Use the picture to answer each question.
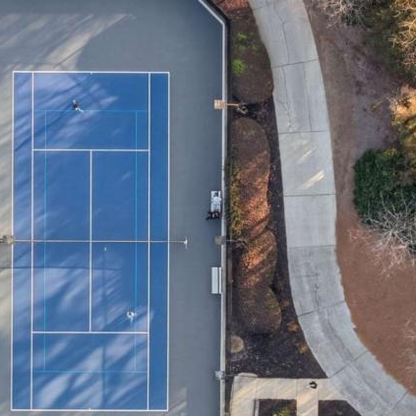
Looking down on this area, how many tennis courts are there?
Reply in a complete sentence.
The photo contains exactly 1 tennis court.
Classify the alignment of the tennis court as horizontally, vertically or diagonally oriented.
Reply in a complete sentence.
The tennis court is laid out vertically.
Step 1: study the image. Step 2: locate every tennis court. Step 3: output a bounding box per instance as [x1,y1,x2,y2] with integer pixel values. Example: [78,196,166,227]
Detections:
[13,71,169,411]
